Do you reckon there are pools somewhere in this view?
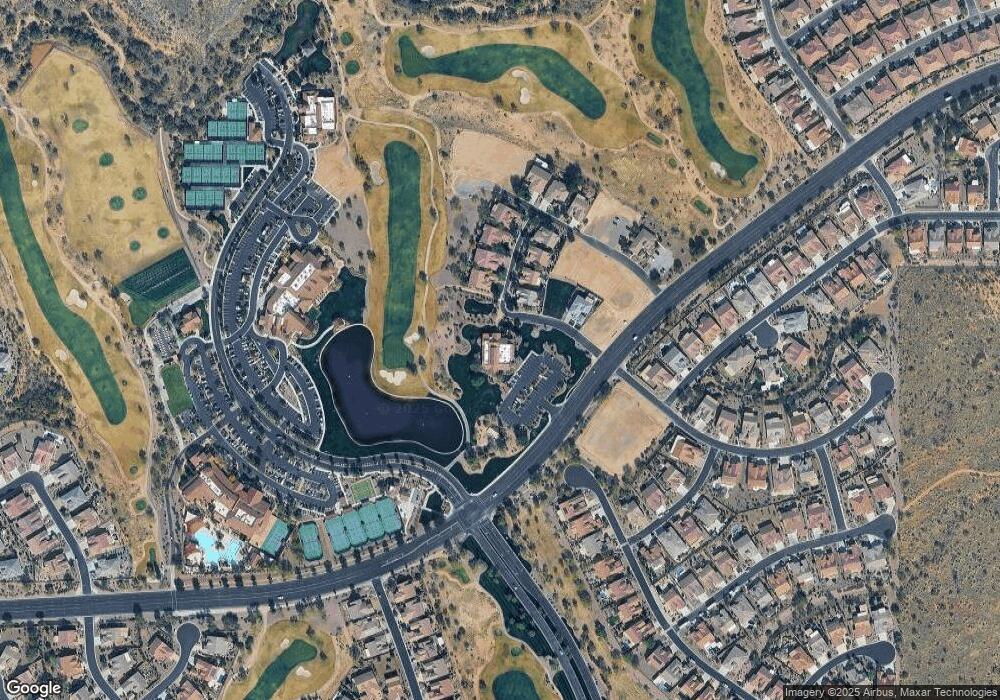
Yes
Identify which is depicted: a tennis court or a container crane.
tennis court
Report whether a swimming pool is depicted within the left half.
Yes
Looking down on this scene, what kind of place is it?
residential area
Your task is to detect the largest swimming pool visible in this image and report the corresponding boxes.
[190,525,248,571]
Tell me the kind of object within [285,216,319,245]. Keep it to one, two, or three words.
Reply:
roundabout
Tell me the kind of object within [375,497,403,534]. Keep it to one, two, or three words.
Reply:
tennis court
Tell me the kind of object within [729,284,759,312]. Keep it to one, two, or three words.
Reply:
house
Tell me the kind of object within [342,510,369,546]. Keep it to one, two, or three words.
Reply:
tennis court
